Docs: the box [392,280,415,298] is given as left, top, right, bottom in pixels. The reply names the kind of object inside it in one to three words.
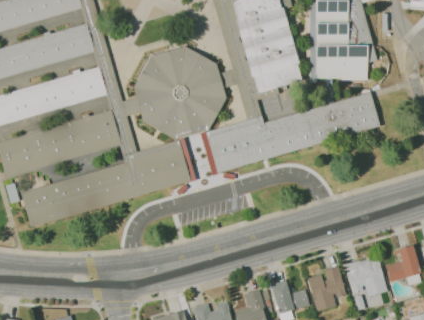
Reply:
swimming pool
